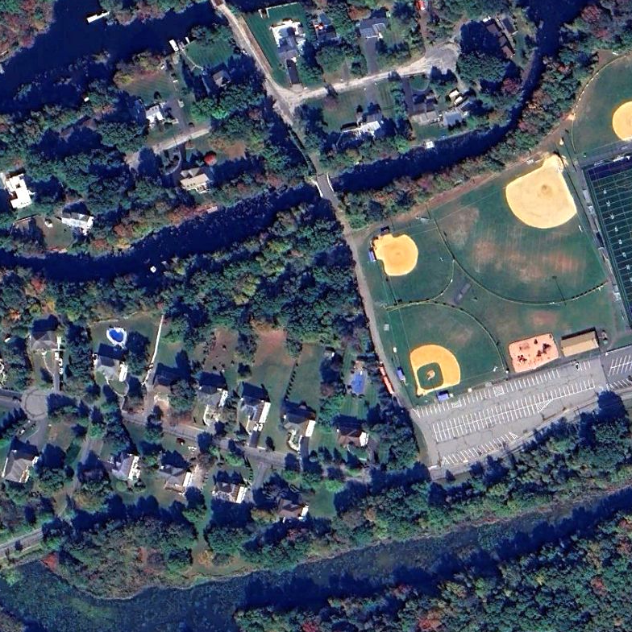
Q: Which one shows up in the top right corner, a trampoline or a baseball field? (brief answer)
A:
baseball field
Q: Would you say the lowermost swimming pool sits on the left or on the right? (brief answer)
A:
left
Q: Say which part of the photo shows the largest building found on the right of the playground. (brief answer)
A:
right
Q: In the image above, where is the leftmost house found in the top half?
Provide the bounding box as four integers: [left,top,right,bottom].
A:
[4,171,37,207]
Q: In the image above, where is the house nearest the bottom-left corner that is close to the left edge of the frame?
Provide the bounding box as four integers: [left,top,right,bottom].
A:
[2,448,40,482]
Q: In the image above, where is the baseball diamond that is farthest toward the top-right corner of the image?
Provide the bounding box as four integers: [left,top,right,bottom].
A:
[569,54,632,159]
